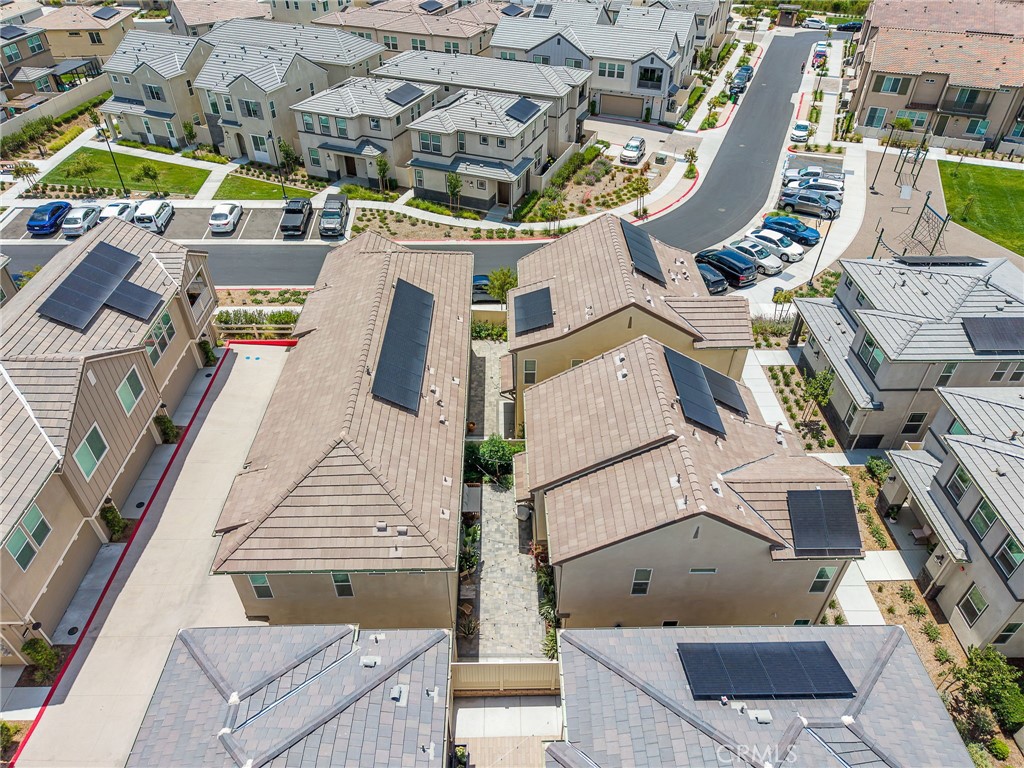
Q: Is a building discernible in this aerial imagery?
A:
Yes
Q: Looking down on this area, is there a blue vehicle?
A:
Yes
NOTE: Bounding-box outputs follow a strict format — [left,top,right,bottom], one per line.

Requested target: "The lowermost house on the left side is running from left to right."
[117,621,452,768]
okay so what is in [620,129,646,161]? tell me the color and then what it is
white car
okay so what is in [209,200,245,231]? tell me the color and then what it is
white car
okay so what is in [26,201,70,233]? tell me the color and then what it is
blue car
